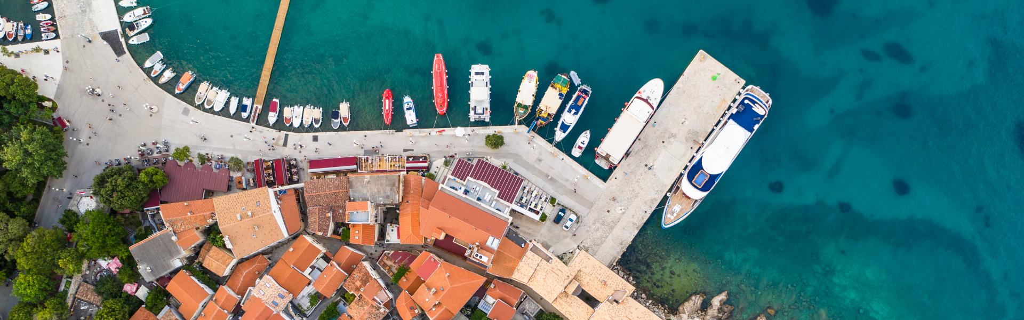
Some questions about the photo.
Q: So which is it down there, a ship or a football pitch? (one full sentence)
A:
It is a ship that can be seen here.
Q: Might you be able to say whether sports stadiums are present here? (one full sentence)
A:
No, the frame has no sports stadium in it.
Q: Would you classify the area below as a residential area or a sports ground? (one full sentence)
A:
The area seen from above is a residential area.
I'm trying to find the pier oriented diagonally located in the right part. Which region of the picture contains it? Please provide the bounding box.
[582,50,745,268]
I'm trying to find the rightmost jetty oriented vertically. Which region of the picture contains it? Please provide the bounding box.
[248,0,290,125]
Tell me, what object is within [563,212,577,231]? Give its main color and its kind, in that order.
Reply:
white car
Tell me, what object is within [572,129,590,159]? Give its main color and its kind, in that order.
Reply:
white boat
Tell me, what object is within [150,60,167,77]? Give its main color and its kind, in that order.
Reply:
white boat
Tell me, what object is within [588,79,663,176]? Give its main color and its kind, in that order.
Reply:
white ship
